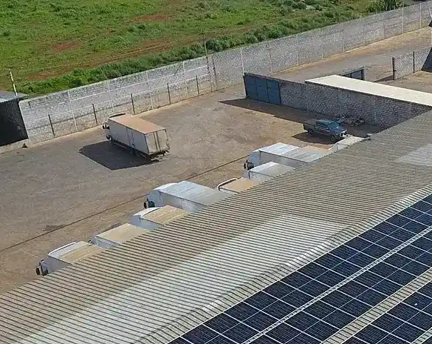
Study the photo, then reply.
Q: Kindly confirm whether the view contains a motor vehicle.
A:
Yes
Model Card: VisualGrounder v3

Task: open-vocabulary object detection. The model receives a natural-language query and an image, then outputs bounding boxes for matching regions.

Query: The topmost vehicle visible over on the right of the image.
[296,114,344,140]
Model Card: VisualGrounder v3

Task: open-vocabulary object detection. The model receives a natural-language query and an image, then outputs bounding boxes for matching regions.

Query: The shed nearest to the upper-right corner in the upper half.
[307,74,432,107]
